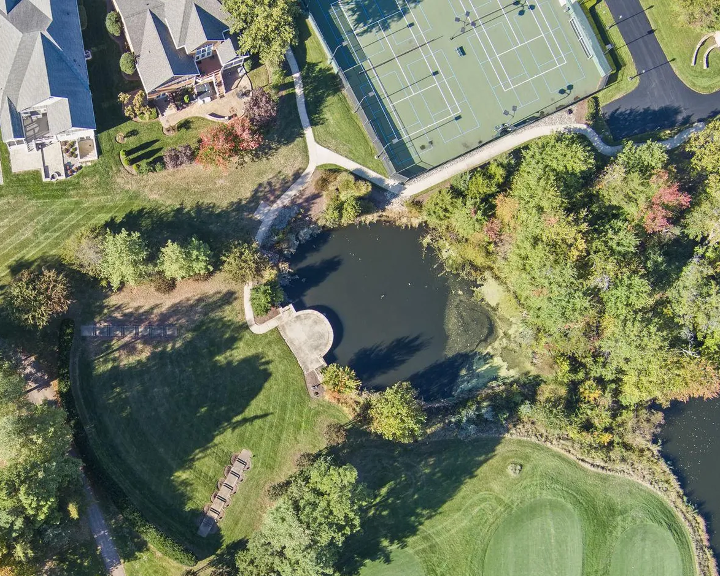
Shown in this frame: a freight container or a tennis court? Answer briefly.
tennis court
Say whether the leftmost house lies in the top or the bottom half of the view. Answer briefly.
top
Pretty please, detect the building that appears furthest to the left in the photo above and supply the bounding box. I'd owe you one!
[0,0,98,181]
